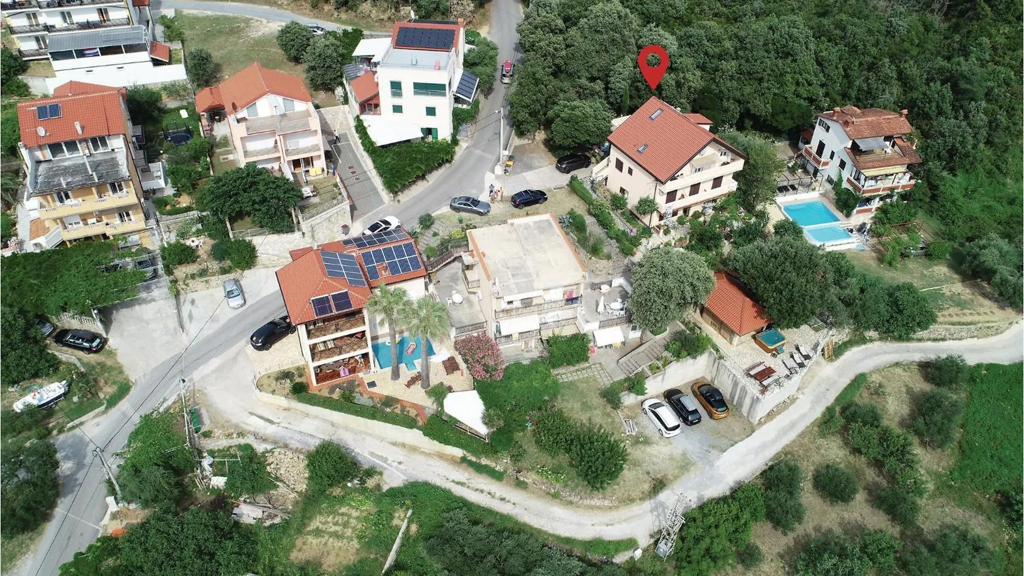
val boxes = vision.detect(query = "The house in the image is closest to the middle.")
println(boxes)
[447,205,589,355]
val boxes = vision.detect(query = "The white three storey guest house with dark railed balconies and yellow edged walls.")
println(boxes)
[0,0,195,97]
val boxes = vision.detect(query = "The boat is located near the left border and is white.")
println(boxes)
[4,373,72,416]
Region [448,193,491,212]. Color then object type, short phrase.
gray car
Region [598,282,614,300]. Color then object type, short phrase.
white umbrella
